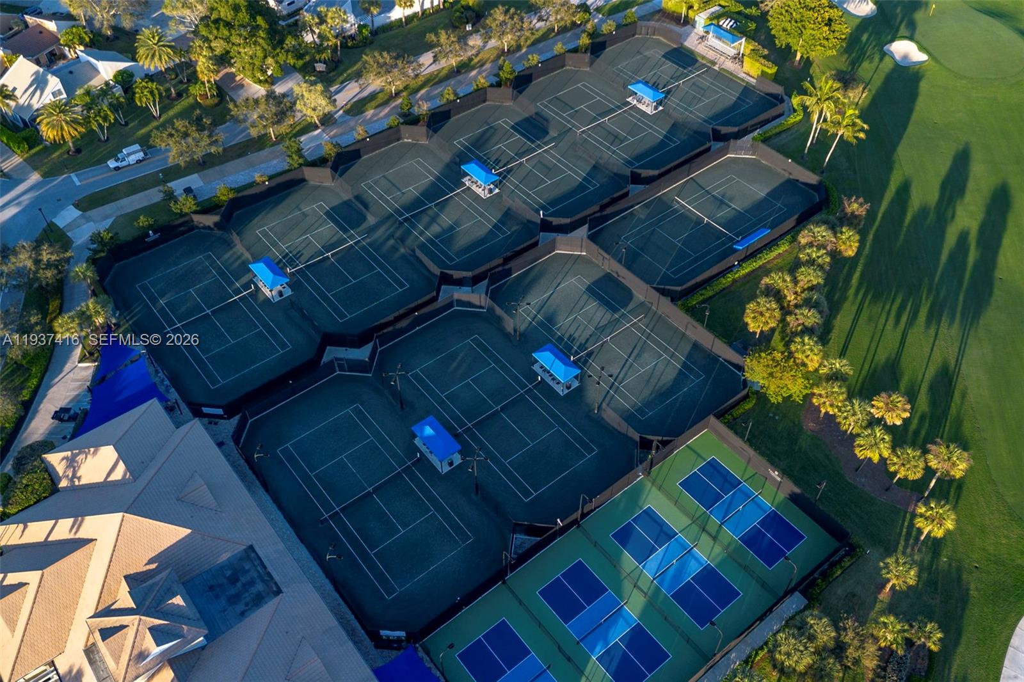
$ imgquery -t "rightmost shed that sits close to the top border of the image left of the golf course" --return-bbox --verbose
[693,6,724,31]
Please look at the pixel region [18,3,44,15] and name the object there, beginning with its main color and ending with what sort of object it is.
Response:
blue vehicle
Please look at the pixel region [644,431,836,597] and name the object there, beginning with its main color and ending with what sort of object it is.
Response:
blue sports court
